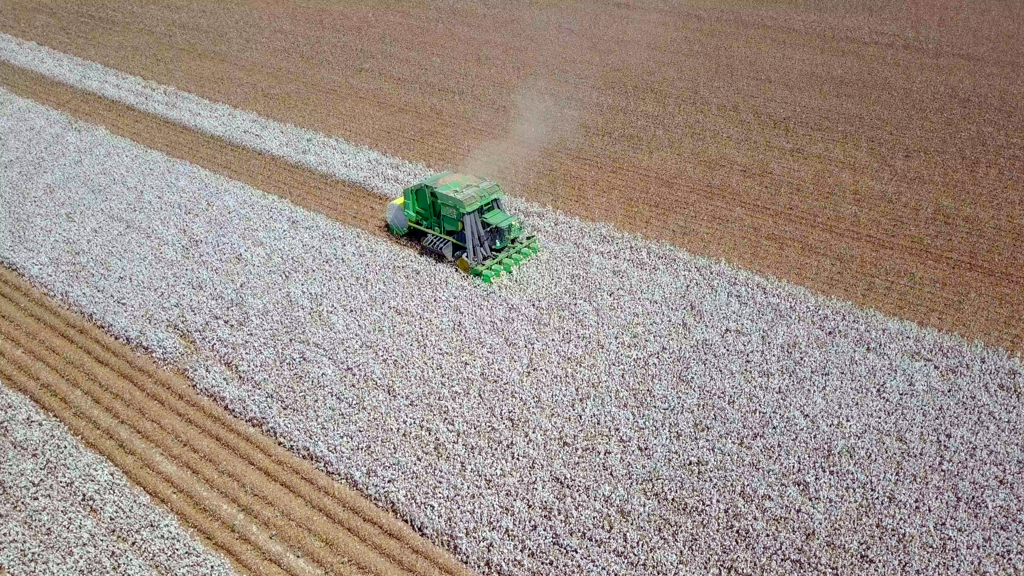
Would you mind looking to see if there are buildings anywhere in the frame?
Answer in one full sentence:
No, the photo shows no building.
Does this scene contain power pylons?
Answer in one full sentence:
No, the scene contains no power pylon.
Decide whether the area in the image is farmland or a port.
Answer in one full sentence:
The picture captures farmland.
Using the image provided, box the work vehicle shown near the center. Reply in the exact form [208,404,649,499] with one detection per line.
[388,165,542,293]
